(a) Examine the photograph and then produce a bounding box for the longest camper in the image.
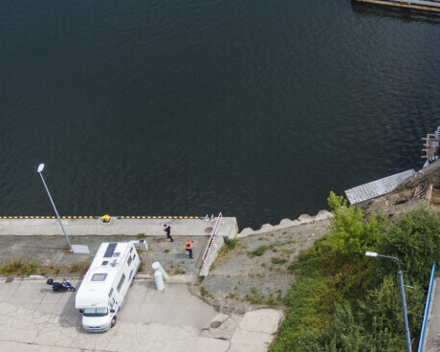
[80,229,148,329]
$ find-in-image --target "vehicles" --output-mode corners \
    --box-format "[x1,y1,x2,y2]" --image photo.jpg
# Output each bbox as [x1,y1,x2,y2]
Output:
[80,229,148,329]
[39,278,72,293]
